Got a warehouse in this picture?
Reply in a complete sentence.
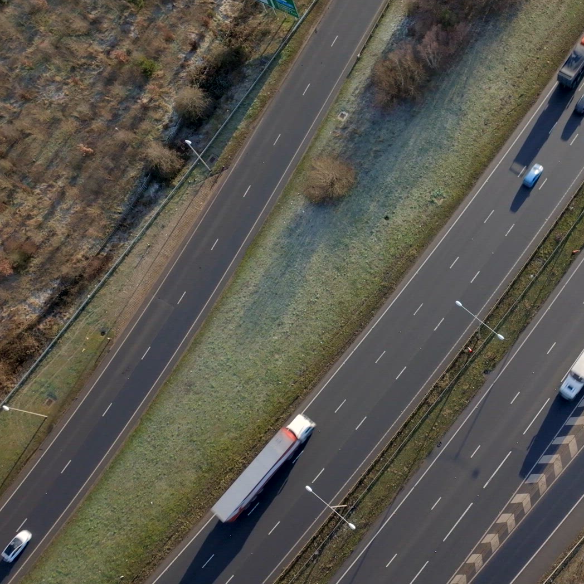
No, no warehouse can be seen from above.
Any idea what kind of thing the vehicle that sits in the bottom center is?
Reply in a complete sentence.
The vehicle that sits in the bottom center is a truck.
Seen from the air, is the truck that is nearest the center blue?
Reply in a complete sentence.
No, the truck that is nearest the center is actually white.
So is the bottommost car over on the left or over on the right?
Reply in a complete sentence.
The bottommost car is on the left side of the image.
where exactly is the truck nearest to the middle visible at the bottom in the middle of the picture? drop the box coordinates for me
[213,410,317,520]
